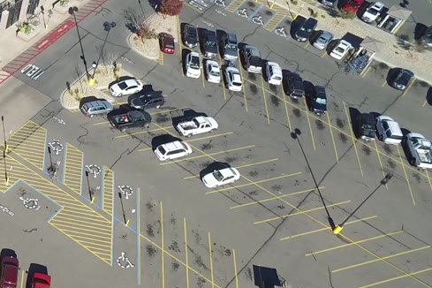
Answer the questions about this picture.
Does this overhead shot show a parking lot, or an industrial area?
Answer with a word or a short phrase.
parking lot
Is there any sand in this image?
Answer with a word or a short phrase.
No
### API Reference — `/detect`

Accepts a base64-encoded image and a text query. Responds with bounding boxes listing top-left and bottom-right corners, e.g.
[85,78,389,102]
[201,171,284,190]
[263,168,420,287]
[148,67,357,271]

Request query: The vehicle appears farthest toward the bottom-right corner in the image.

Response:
[404,129,432,170]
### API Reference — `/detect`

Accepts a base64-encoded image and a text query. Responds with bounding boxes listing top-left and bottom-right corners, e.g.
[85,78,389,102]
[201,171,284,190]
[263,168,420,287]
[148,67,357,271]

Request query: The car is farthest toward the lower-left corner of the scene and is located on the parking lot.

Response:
[0,255,21,288]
